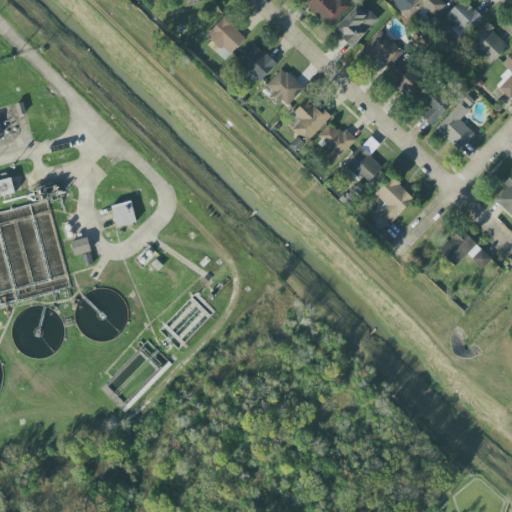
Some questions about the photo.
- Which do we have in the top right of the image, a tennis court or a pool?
pool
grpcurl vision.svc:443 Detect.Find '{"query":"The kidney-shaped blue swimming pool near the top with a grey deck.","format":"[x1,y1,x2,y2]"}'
[386,16,410,44]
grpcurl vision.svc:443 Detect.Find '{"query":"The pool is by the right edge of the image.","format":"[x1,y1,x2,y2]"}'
[470,98,488,126]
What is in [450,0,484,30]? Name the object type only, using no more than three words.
house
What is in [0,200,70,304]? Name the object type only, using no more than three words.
water tank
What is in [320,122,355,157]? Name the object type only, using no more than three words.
house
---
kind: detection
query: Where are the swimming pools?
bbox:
[386,16,410,44]
[470,98,488,126]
